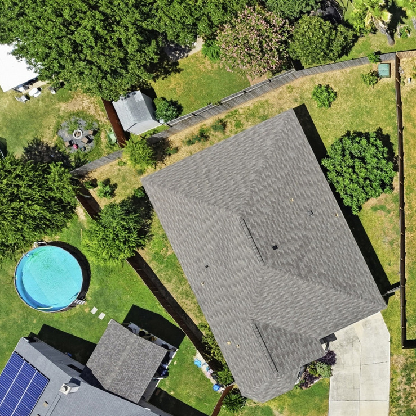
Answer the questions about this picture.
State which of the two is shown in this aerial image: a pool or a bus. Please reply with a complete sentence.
The image shows a pool.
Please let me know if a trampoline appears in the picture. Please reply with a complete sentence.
Yes, the picture does show a trampoline.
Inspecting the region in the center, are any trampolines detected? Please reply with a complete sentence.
No, I see no trampoline in the center.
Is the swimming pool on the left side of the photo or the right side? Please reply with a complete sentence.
The swimming pool is on the left side of the image.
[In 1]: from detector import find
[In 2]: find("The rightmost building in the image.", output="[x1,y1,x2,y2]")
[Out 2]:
[139,110,385,404]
